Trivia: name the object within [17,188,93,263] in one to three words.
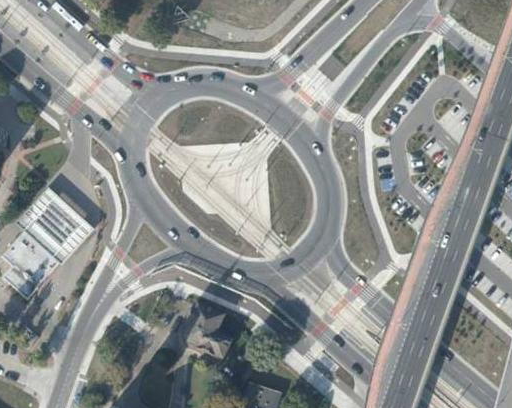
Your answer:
building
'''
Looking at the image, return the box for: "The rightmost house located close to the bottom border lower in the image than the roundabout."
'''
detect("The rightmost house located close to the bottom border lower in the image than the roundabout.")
[243,381,281,408]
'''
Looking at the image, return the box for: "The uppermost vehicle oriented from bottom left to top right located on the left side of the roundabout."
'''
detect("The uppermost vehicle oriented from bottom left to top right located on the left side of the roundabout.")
[53,297,66,312]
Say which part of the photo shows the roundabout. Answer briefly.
center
